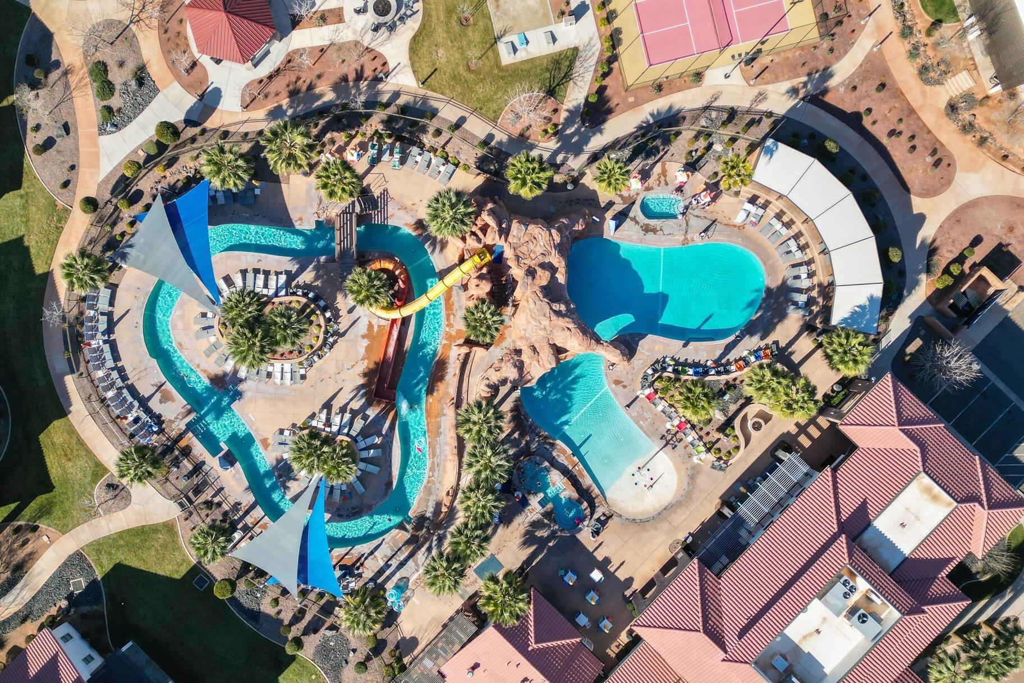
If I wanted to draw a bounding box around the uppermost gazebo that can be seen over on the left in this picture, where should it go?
[184,0,280,69]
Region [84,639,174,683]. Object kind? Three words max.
building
